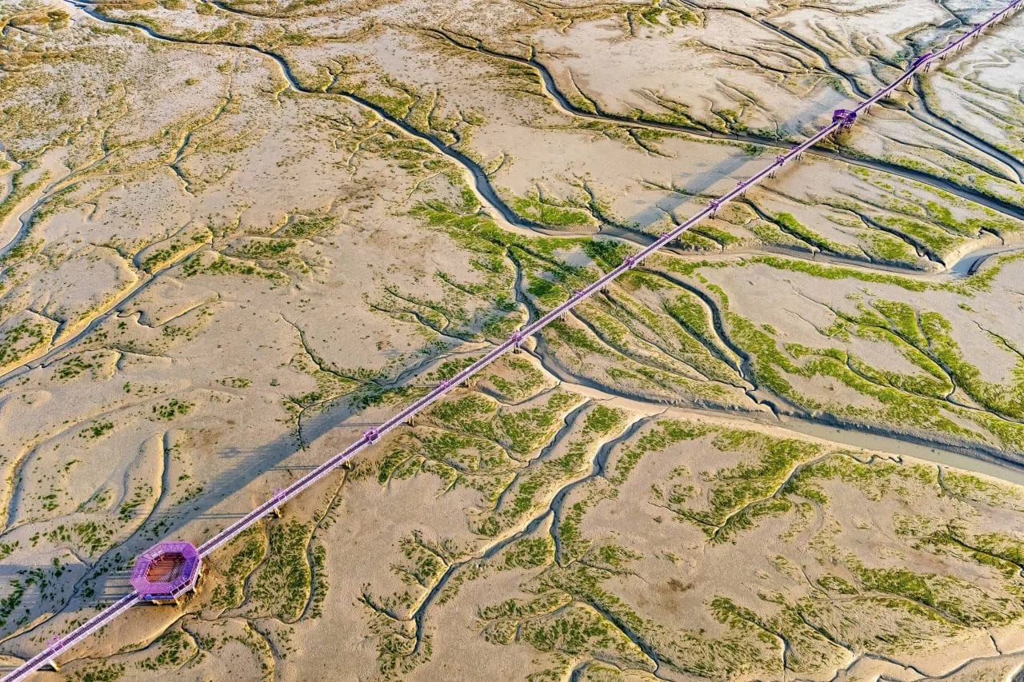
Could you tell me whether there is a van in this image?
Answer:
No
